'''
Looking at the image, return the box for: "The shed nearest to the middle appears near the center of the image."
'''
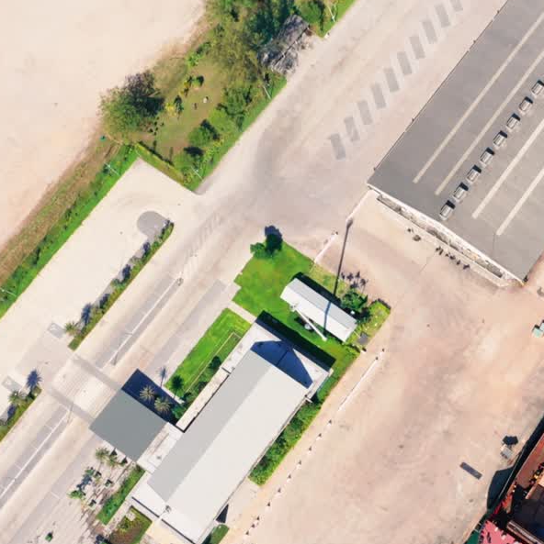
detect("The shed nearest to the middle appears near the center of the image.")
[281,279,359,341]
